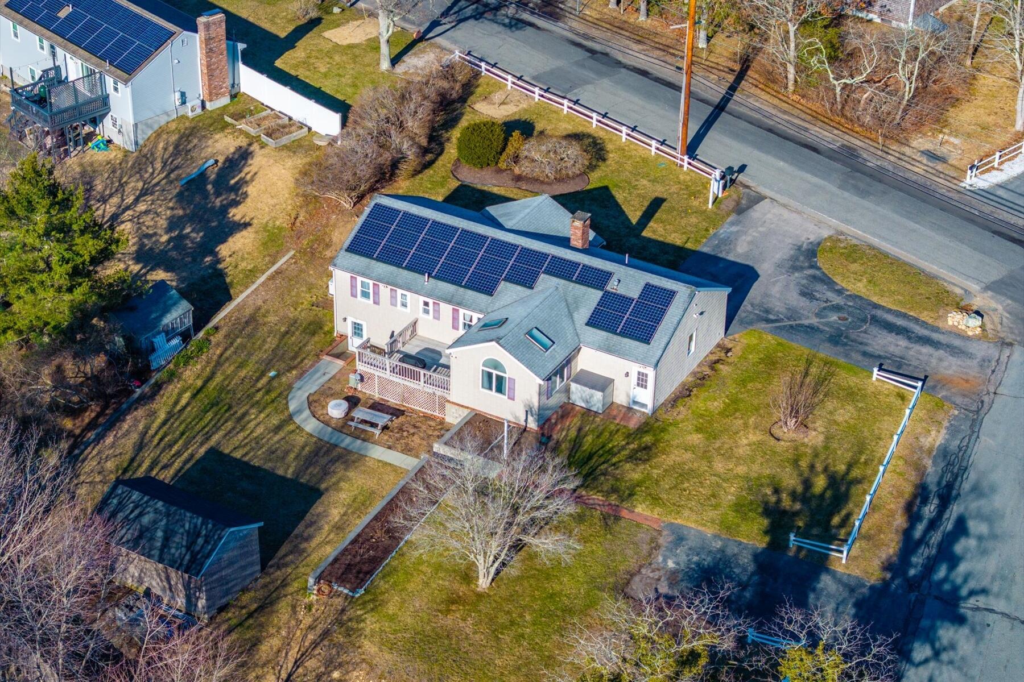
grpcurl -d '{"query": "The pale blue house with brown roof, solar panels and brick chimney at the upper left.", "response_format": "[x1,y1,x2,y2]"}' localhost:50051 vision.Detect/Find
[0,0,247,160]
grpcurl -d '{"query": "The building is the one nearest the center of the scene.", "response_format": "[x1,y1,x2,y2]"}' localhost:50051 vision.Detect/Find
[328,191,733,431]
